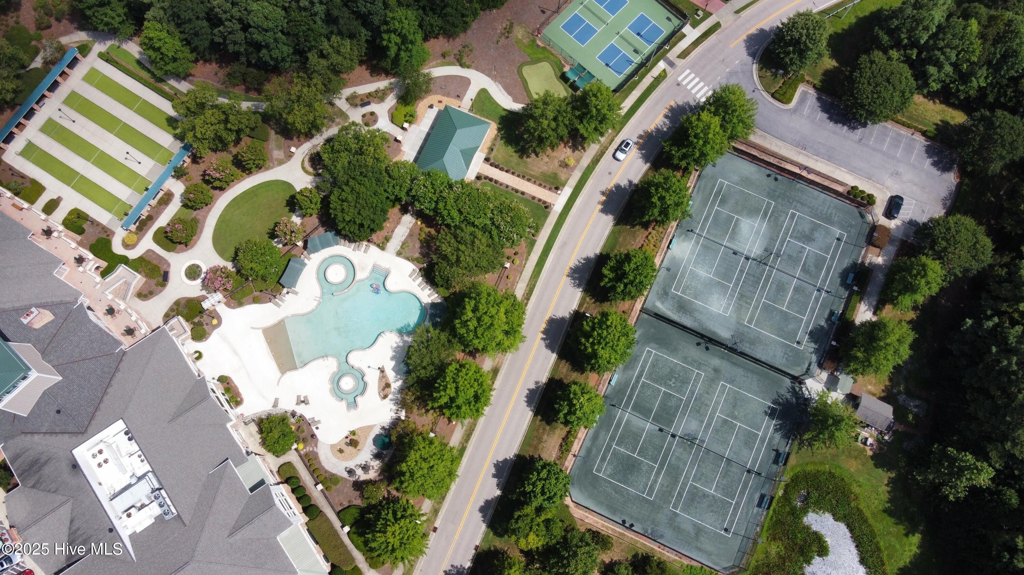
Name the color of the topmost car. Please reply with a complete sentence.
The color of the topmost car is white.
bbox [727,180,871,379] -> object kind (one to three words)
tennis court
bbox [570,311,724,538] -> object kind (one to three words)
tennis court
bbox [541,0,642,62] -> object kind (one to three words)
sports court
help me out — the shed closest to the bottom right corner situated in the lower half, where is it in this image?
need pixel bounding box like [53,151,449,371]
[854,393,893,432]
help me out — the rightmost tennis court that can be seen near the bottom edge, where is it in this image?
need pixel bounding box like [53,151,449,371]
[648,349,804,575]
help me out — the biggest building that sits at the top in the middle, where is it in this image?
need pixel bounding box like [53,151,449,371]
[416,104,491,181]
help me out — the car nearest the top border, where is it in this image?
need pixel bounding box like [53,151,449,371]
[614,136,634,160]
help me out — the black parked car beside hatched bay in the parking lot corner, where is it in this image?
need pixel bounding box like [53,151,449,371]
[889,198,906,224]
